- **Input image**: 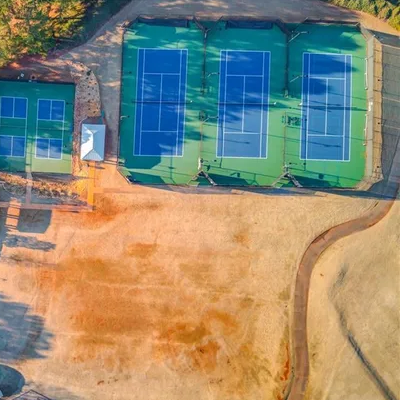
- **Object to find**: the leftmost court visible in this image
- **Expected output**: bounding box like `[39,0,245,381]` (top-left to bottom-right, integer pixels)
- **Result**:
[0,82,32,172]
